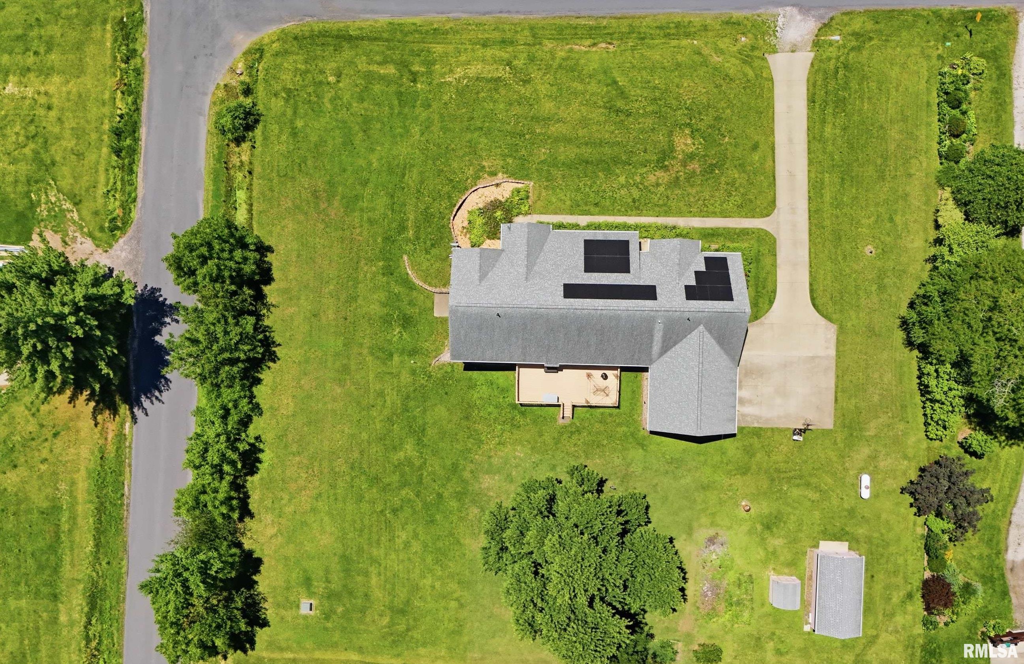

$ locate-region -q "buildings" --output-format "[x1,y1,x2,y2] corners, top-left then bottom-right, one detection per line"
[808,549,866,639]
[448,221,751,438]
[767,576,800,609]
